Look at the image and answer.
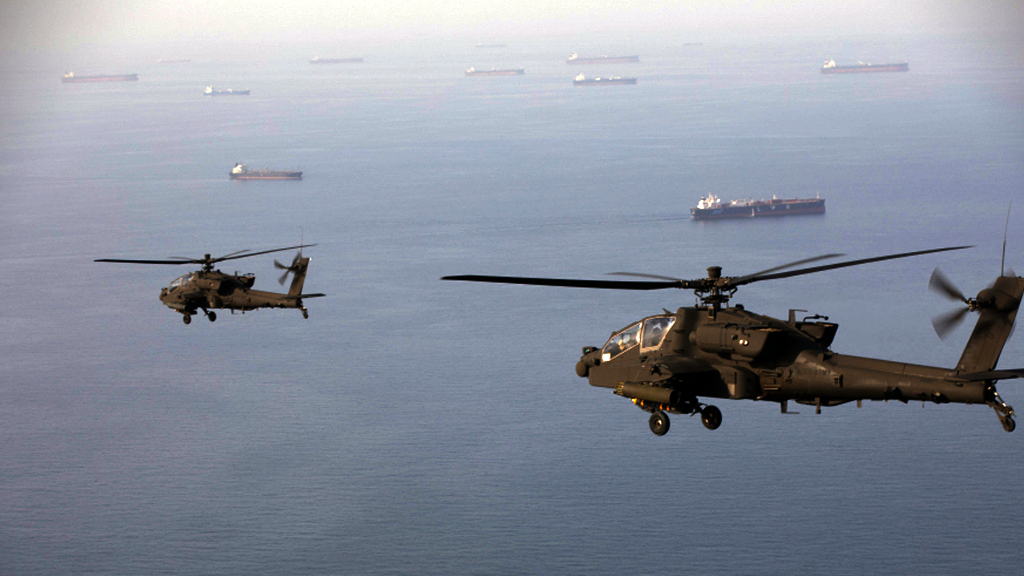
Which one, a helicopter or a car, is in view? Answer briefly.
helicopter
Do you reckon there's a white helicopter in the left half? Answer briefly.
No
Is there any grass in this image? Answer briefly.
No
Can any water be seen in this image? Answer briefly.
Yes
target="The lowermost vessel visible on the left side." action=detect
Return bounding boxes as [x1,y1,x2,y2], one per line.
[230,163,301,179]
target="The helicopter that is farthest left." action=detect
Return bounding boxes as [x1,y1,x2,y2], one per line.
[94,245,327,324]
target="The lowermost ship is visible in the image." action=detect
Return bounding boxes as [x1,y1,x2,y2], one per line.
[689,191,825,221]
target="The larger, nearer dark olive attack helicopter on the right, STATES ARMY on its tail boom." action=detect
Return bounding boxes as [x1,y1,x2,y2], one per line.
[436,202,1024,438]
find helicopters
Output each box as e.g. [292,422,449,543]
[94,245,327,324]
[436,202,1024,438]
